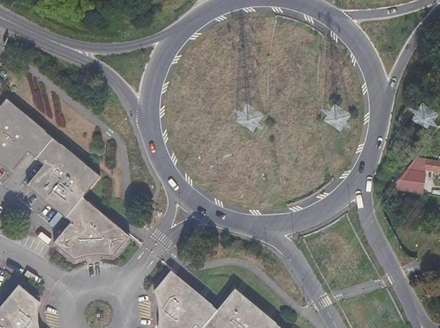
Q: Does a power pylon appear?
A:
Yes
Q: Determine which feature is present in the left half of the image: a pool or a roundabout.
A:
roundabout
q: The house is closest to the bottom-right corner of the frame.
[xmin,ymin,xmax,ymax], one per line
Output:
[396,157,440,194]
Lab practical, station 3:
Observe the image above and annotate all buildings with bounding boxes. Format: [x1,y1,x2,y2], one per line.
[154,270,280,328]
[0,285,40,328]
[396,157,440,194]
[0,99,132,263]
